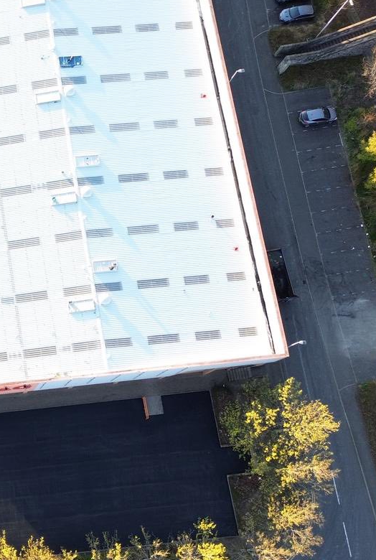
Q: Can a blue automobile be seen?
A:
Yes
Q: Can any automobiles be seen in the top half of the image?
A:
Yes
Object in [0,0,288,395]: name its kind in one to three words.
warehouse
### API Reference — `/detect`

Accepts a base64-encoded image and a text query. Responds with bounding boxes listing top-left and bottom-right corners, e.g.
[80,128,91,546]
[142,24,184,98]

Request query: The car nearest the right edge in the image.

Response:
[296,105,336,128]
